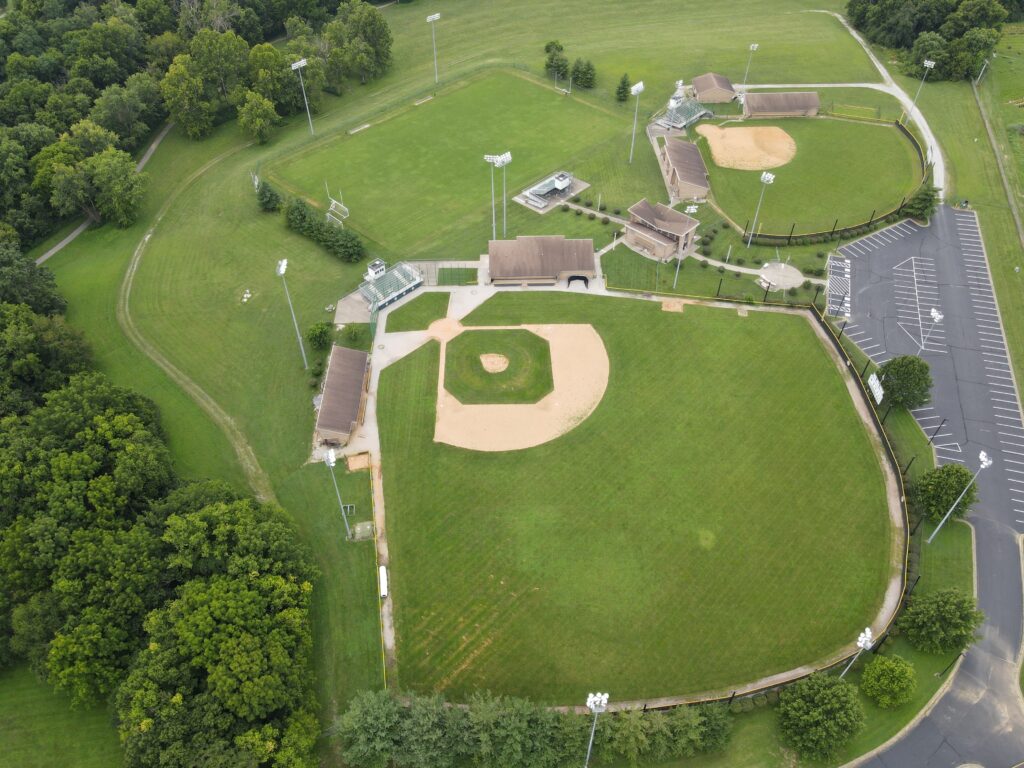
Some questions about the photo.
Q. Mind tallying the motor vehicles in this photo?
0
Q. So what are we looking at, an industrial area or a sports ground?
sports ground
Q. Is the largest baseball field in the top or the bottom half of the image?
bottom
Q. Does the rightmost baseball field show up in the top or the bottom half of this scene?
top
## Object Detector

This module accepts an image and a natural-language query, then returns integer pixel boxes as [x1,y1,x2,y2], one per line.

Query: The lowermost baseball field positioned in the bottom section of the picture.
[348,290,910,710]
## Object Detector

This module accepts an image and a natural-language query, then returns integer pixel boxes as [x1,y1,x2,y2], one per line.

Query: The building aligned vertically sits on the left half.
[311,345,369,446]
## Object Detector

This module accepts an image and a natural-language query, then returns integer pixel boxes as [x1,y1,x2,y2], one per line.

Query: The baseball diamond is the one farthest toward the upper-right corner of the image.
[690,116,924,236]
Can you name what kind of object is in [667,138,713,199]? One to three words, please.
building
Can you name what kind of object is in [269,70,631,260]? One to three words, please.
soccer field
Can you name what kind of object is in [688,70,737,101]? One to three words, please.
building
